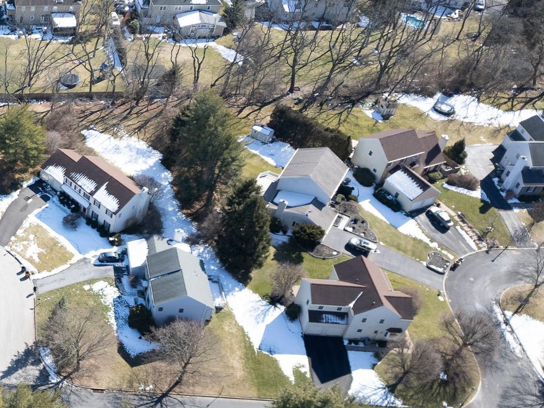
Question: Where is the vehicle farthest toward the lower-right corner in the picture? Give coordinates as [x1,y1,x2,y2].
[429,206,453,229]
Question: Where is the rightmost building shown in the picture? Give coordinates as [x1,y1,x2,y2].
[476,110,544,195]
